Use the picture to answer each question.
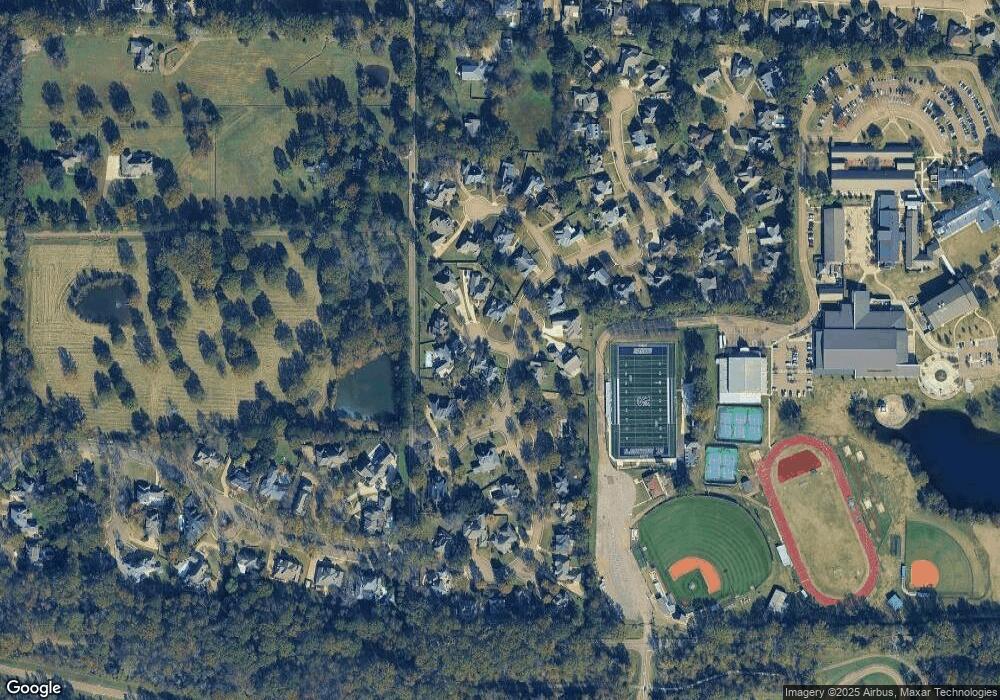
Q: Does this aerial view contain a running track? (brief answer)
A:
Yes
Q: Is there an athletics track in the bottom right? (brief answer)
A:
Yes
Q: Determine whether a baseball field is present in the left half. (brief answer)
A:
No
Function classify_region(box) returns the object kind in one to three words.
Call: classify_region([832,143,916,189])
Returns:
building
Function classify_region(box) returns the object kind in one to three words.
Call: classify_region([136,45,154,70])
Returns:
house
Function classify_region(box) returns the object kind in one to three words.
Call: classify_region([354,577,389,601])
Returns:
house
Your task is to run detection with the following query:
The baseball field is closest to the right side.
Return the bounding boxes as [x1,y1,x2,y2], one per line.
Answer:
[905,520,973,597]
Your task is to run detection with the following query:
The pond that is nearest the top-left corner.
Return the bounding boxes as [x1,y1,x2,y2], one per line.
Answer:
[75,283,130,324]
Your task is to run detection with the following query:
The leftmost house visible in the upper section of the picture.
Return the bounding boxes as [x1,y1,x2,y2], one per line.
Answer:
[57,150,79,175]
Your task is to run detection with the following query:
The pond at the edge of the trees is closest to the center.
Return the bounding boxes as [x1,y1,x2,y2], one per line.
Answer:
[337,354,395,416]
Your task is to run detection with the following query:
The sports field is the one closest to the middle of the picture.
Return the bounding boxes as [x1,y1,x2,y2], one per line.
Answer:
[610,345,677,459]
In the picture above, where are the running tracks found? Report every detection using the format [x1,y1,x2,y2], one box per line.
[761,435,878,605]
